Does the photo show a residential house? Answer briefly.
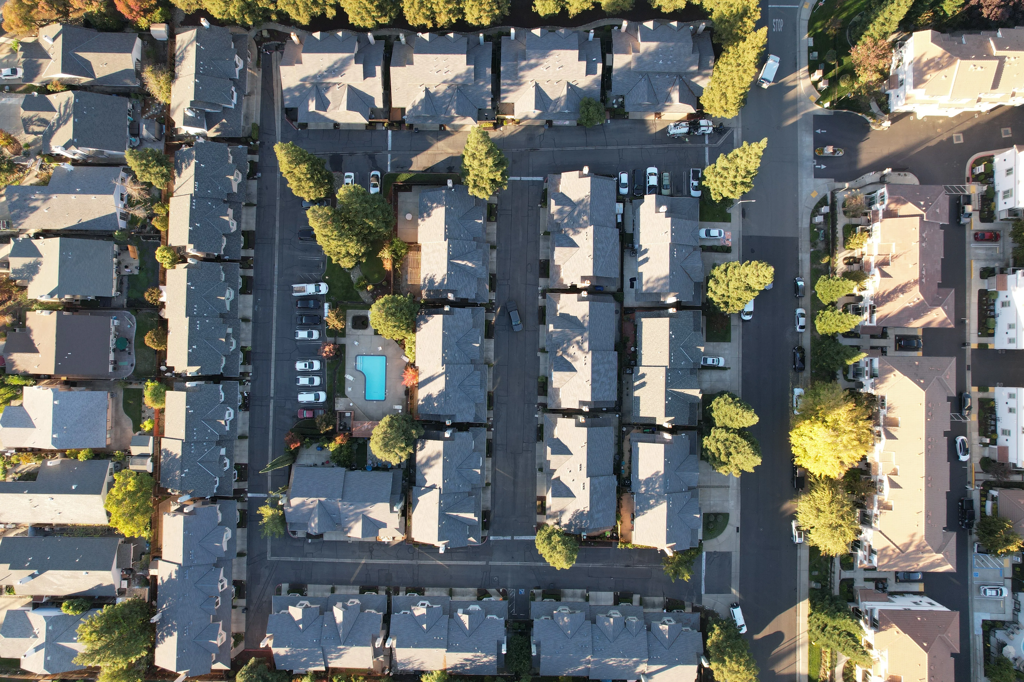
Yes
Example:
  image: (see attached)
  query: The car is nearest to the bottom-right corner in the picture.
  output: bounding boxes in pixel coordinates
[980,585,1007,599]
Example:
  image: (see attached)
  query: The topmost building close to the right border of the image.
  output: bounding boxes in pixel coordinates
[885,30,1024,113]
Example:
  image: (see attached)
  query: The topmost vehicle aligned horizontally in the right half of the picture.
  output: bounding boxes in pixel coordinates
[663,118,720,137]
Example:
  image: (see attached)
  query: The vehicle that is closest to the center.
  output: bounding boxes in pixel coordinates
[506,300,522,332]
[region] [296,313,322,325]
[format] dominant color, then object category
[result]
black vehicle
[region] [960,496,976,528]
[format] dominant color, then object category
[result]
black vehicle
